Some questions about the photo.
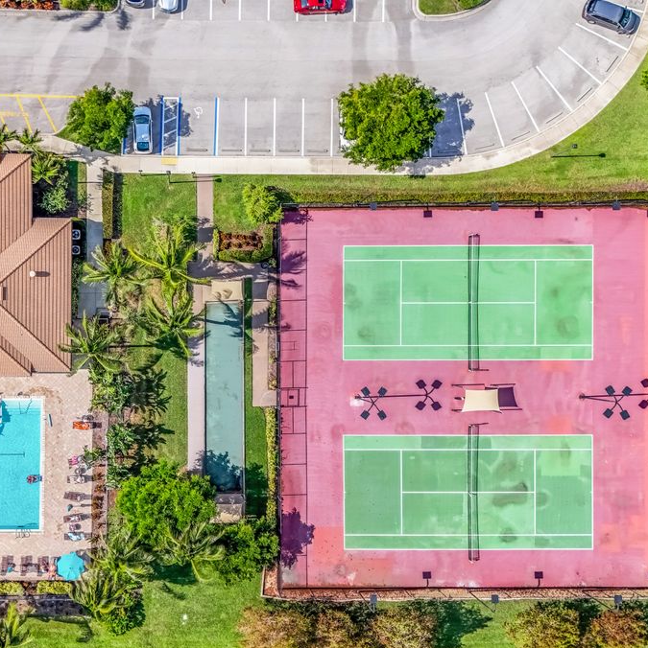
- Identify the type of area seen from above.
sports ground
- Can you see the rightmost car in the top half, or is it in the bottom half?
top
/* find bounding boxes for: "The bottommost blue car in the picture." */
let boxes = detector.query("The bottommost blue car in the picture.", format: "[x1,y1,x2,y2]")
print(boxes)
[133,106,155,155]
